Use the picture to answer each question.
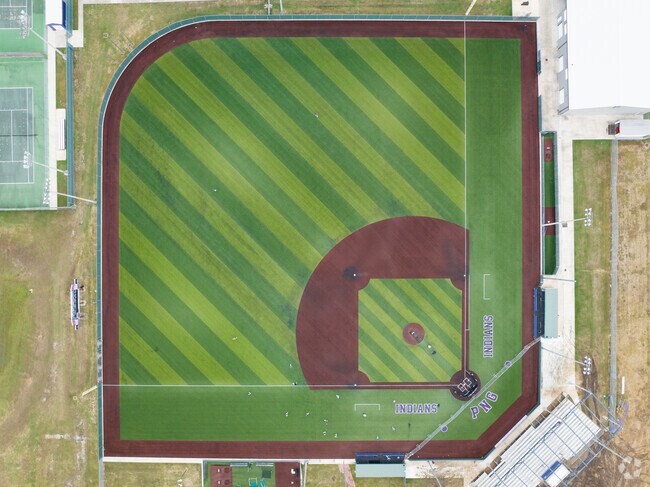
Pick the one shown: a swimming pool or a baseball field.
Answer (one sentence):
Visible in the photo is a baseball field.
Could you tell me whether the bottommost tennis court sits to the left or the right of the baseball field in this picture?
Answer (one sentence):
Relative to the baseball field, the bottommost tennis court lies to the left.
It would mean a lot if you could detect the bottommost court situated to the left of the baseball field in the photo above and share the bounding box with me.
[0,87,36,183]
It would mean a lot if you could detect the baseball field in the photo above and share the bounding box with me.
[102,20,541,459]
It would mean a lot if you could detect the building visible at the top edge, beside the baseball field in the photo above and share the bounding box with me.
[557,0,650,114]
